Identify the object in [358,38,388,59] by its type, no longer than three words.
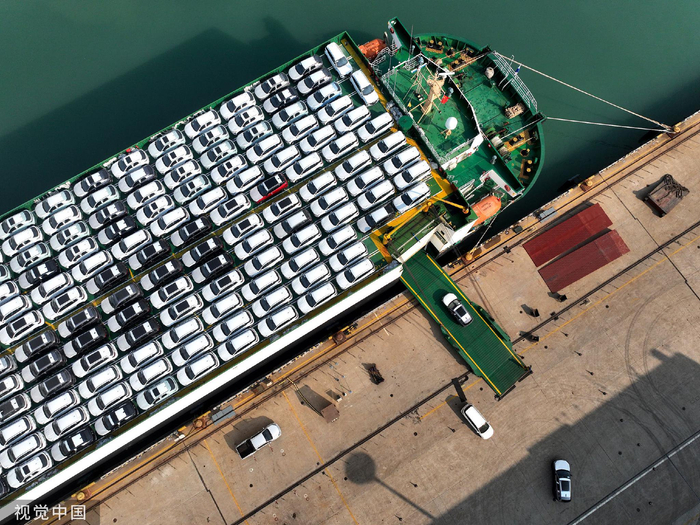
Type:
boat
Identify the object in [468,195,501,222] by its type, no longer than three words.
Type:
boat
